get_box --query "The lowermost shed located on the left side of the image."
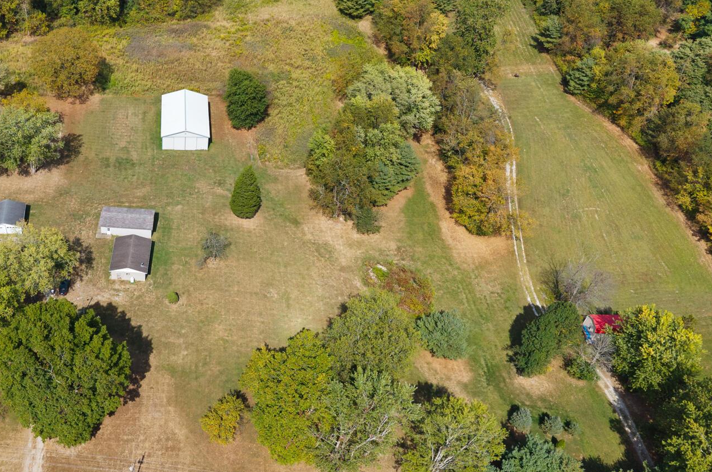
[109,232,153,280]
